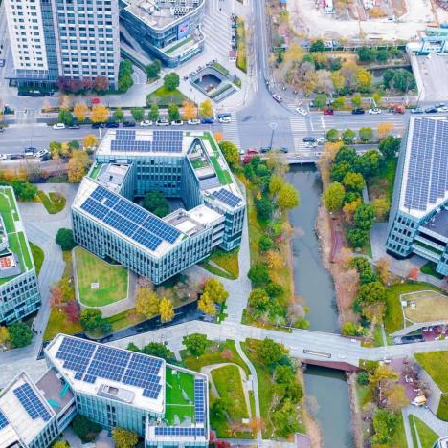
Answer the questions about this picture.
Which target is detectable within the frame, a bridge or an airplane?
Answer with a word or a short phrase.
bridge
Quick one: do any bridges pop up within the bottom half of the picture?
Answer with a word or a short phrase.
Yes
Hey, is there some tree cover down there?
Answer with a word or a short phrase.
Yes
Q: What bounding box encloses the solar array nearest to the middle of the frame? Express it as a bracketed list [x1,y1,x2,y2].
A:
[213,188,242,205]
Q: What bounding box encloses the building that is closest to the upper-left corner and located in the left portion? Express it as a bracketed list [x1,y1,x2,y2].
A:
[2,0,119,92]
